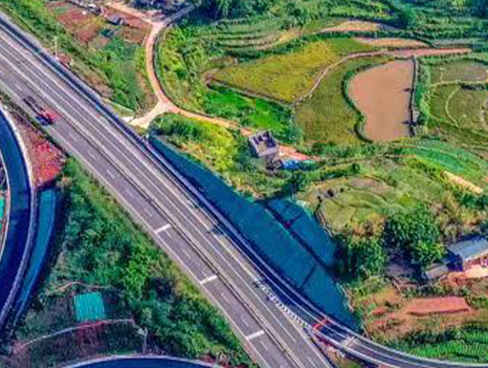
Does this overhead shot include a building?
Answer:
Yes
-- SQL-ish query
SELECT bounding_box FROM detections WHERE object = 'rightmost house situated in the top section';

[250,127,287,157]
